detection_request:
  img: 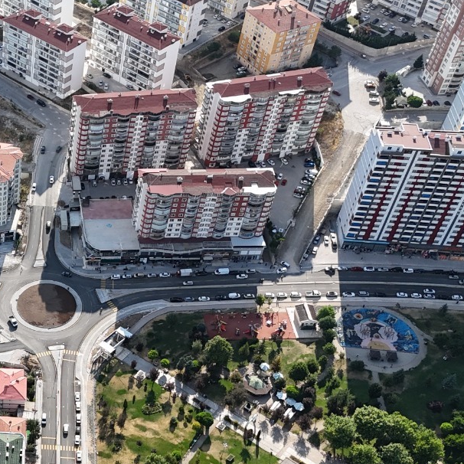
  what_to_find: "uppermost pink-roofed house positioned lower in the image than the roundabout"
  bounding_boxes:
[0,370,28,411]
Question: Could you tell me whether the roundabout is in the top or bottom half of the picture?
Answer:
bottom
